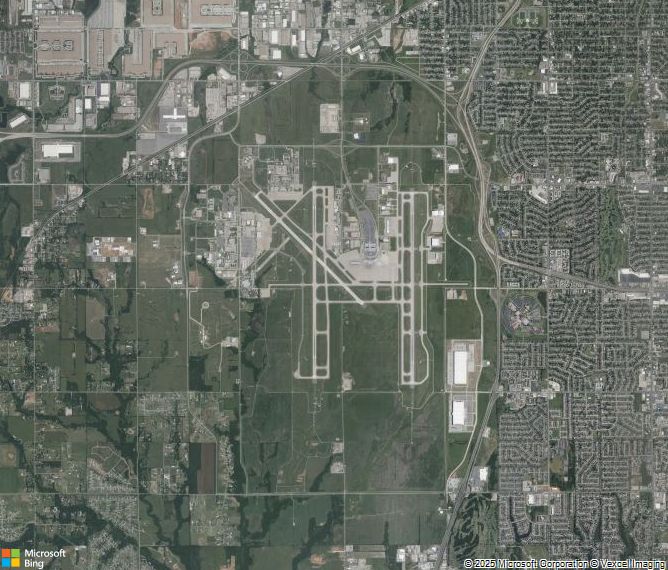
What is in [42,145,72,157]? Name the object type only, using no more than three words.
building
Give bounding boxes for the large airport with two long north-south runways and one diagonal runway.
[254,157,470,385]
